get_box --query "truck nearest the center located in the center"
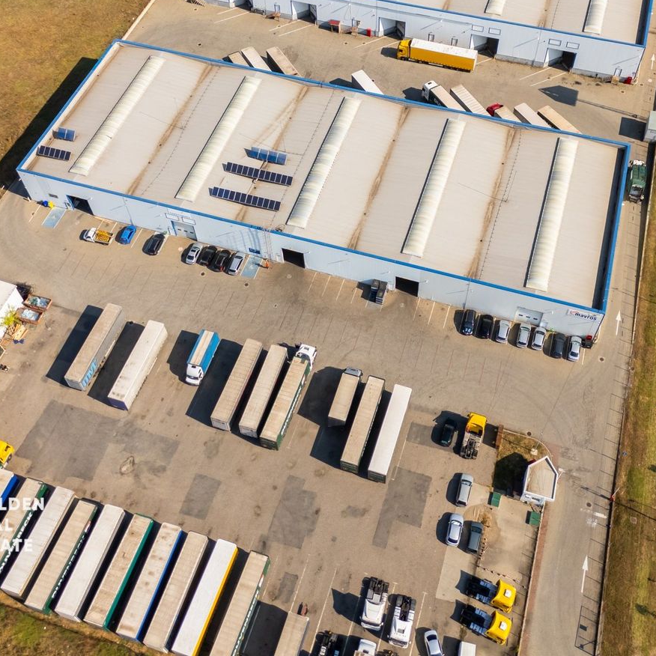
[296,340,321,383]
